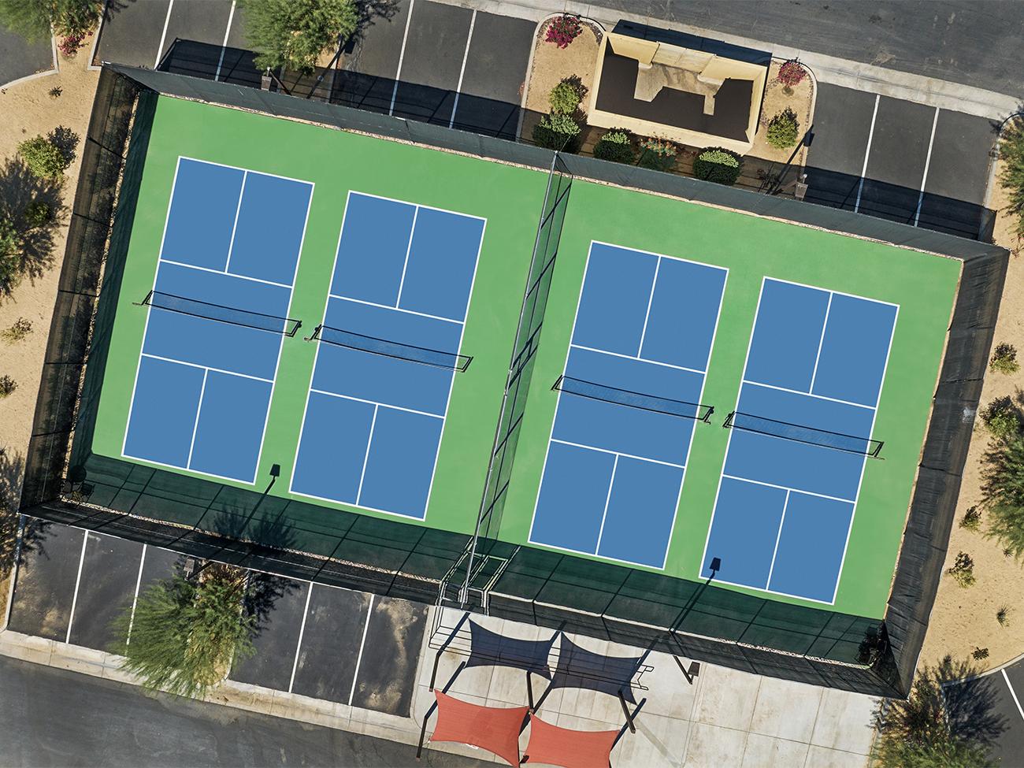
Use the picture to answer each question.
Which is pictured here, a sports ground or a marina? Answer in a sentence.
The area seen from above is a sports ground.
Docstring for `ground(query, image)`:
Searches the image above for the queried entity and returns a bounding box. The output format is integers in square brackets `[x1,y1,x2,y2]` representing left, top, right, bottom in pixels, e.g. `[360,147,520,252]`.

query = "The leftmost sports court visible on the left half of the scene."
[69,94,343,539]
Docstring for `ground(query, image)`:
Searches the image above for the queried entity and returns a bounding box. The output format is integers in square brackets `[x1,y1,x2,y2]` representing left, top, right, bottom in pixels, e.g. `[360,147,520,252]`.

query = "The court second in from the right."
[468,178,757,624]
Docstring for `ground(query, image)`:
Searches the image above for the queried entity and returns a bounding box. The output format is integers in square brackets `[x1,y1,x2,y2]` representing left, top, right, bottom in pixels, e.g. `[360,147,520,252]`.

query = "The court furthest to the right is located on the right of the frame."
[671,220,960,666]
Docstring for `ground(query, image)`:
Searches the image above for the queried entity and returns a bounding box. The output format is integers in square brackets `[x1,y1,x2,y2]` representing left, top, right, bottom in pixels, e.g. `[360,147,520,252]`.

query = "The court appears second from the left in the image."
[263,135,550,582]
